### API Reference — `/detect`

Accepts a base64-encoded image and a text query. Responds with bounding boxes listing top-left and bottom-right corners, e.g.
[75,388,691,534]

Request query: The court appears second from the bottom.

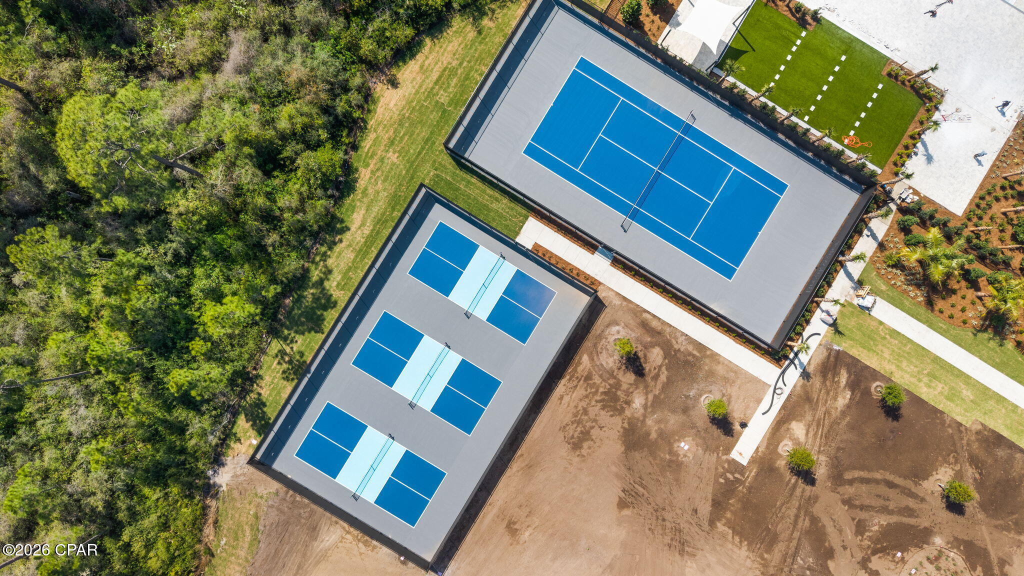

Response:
[351,310,502,437]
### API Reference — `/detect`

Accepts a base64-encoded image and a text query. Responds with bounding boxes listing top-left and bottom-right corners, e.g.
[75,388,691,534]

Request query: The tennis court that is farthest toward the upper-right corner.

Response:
[444,0,867,348]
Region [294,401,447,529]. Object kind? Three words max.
sports court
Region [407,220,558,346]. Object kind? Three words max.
sports court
